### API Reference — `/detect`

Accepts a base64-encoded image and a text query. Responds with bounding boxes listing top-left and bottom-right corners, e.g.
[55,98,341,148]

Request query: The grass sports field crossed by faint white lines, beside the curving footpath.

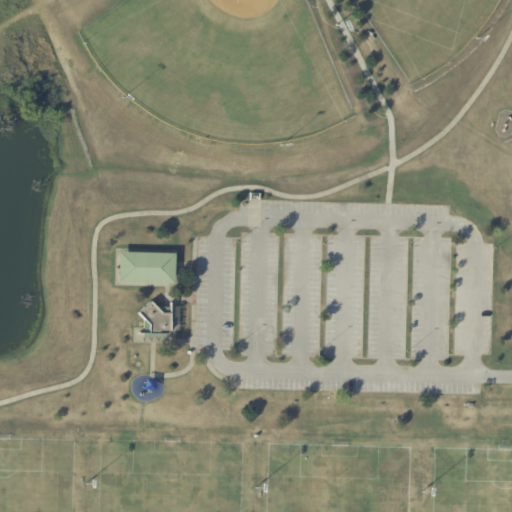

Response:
[370,0,502,84]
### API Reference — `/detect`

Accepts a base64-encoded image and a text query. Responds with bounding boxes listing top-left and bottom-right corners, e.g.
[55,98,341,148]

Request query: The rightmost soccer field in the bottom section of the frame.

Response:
[433,448,512,512]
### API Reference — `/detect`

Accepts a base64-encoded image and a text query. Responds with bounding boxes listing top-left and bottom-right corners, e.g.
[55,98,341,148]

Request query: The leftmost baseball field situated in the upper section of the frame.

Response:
[84,0,346,144]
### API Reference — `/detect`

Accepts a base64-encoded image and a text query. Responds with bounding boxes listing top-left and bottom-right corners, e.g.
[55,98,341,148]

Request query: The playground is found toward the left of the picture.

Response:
[132,374,164,402]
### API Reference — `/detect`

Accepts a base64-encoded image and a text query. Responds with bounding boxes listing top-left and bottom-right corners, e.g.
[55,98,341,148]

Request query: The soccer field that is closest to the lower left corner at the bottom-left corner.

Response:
[0,438,75,512]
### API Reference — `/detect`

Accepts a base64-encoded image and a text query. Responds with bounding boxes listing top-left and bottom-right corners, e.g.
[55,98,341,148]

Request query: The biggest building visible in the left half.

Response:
[116,249,178,286]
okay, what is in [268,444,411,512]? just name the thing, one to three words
soccer field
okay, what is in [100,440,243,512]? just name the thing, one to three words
soccer field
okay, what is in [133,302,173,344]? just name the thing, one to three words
building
